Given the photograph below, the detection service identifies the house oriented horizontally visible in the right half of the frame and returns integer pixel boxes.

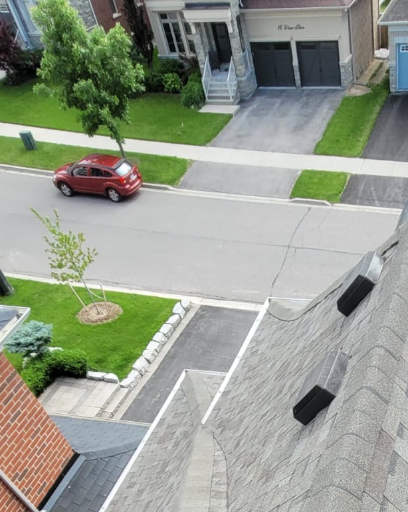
[138,0,388,109]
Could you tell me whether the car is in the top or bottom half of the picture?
top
